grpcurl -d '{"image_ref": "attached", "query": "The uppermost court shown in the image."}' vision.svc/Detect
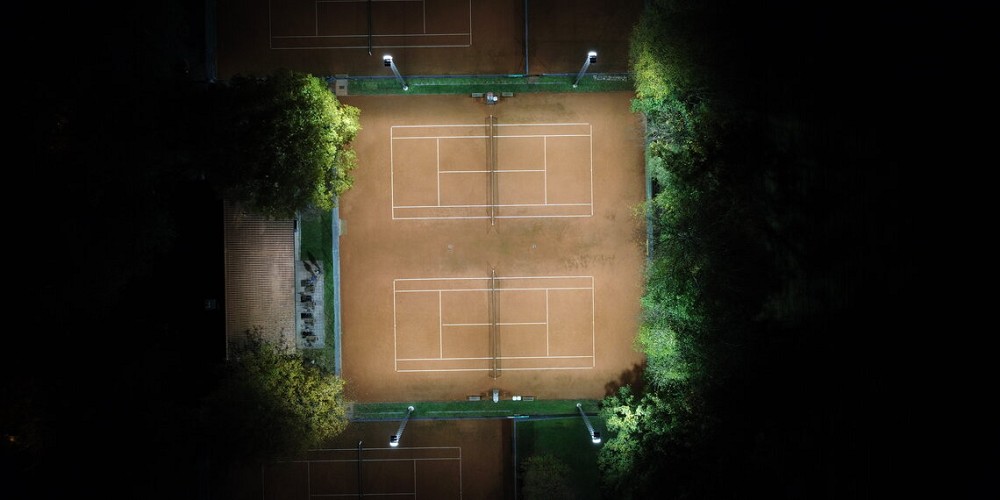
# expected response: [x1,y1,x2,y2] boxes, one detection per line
[222,0,524,78]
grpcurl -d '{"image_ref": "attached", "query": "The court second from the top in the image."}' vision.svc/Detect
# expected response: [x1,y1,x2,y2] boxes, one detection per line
[339,91,646,249]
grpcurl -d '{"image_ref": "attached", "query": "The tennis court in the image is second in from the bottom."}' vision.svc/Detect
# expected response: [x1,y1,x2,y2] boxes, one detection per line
[342,245,647,404]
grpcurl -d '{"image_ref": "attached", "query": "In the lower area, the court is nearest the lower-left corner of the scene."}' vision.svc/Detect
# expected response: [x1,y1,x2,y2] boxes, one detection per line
[234,420,515,500]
